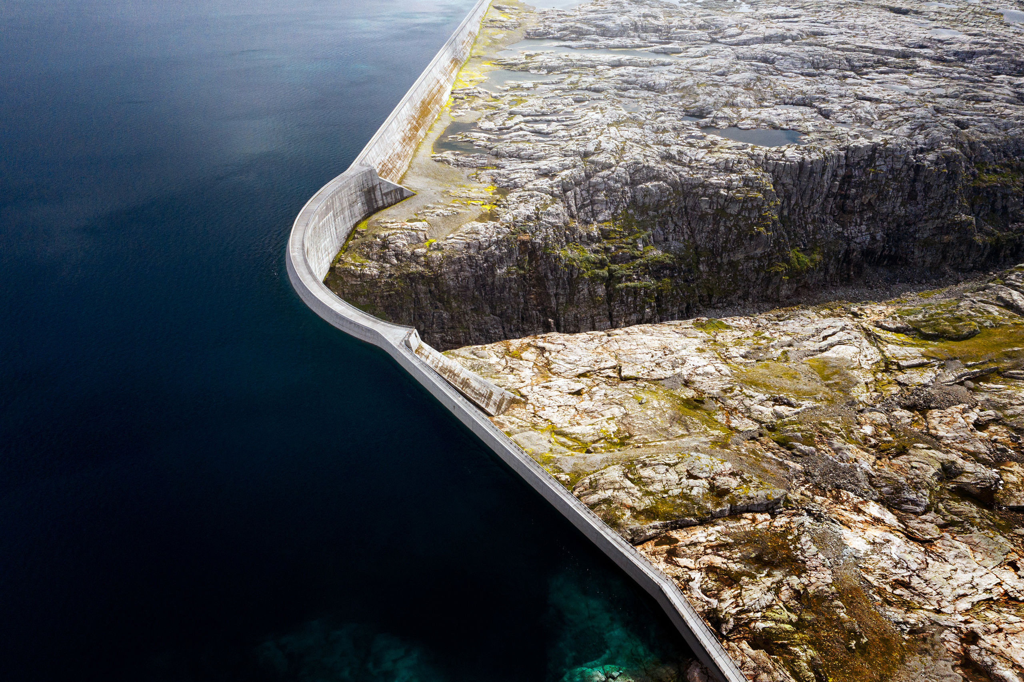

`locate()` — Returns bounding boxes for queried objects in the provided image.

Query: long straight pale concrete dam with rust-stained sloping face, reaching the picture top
[357,0,493,179]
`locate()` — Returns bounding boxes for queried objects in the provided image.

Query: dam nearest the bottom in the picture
[392,340,746,682]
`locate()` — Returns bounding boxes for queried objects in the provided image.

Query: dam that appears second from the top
[286,161,518,449]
